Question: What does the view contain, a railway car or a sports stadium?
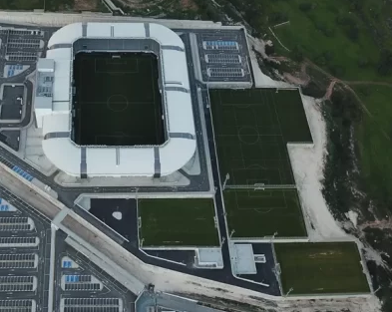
sports stadium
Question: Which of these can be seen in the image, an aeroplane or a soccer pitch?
soccer pitch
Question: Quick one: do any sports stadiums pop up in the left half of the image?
Yes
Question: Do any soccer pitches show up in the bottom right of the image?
Yes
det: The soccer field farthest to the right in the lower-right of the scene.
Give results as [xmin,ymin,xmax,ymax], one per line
[274,242,371,295]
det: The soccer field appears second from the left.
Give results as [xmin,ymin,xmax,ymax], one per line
[137,198,220,248]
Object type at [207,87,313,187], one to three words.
soccer field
